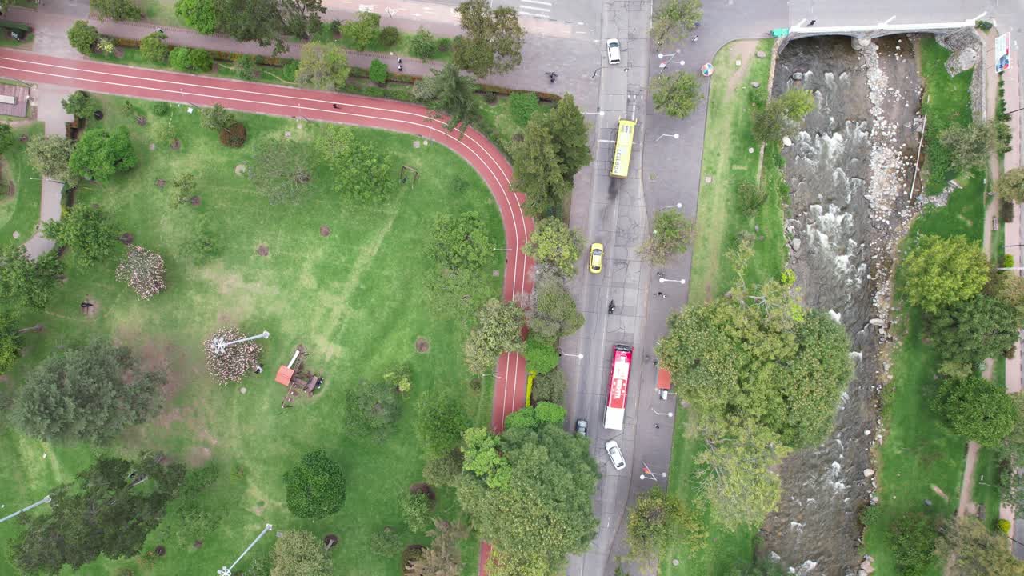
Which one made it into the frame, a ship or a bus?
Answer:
bus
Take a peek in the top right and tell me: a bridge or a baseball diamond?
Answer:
bridge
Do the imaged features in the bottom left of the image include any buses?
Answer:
No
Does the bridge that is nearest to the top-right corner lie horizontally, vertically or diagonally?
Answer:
horizontally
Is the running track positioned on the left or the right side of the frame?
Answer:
left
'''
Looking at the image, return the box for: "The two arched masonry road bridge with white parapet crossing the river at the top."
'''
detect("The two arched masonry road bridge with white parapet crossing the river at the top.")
[776,10,998,49]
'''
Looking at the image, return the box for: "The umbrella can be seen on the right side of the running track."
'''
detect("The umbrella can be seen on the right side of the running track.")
[700,62,714,76]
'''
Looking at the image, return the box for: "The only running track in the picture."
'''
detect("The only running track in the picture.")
[0,48,534,576]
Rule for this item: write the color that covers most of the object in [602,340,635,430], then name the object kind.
white bus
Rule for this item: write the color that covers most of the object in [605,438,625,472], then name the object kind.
white car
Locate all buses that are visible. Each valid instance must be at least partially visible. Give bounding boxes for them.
[608,117,637,181]
[602,340,635,430]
